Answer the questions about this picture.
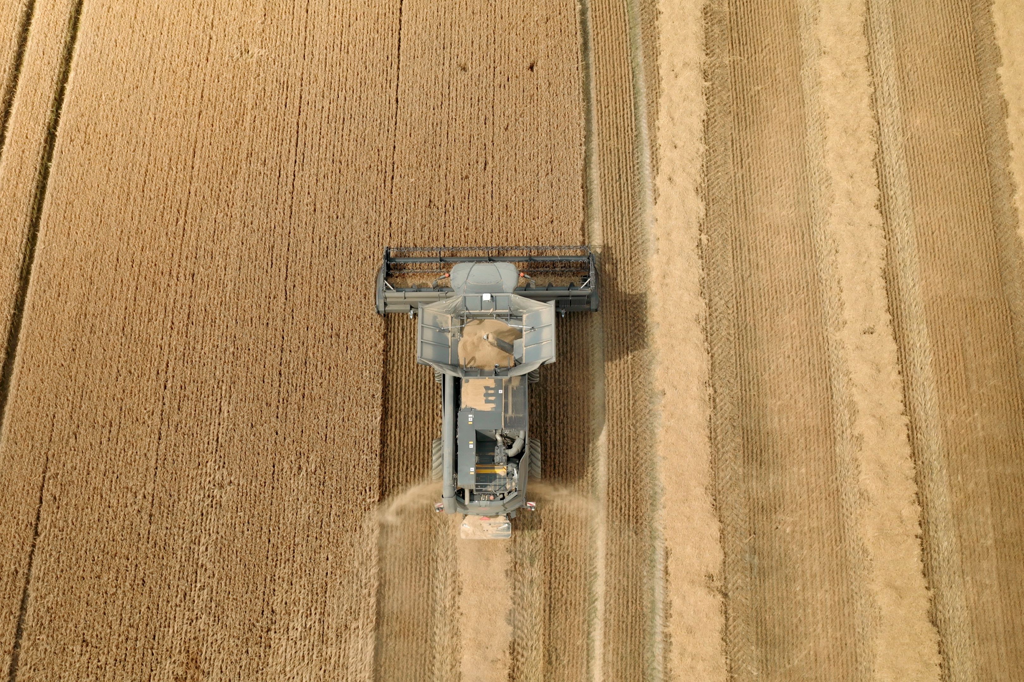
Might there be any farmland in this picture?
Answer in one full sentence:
Yes, farmland shows up in the scene.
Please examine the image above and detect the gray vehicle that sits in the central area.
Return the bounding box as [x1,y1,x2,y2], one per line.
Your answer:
[376,239,599,540]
